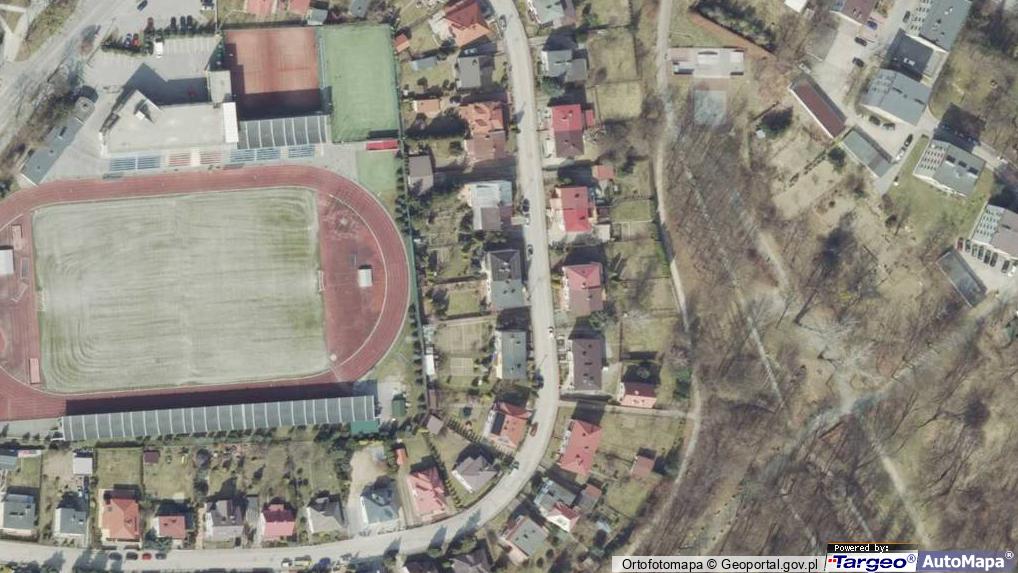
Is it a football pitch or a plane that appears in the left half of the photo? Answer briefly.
football pitch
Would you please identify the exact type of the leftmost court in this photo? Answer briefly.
tennis court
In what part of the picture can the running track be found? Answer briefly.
left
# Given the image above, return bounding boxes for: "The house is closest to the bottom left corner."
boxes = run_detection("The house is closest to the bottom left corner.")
[0,491,37,529]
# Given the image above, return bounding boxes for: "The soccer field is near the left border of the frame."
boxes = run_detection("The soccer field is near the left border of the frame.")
[33,188,329,391]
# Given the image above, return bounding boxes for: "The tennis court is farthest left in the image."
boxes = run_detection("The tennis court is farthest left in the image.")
[225,27,277,120]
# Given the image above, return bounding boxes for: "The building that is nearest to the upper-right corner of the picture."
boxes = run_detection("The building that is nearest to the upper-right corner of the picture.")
[905,0,972,53]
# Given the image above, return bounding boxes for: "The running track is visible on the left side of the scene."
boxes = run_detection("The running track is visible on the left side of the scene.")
[0,166,412,424]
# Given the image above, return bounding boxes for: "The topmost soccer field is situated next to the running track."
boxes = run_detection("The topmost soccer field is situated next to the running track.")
[318,24,399,141]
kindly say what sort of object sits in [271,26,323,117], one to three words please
tennis court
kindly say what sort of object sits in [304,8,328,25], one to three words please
shed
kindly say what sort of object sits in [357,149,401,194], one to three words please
sports field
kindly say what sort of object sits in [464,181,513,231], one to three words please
house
